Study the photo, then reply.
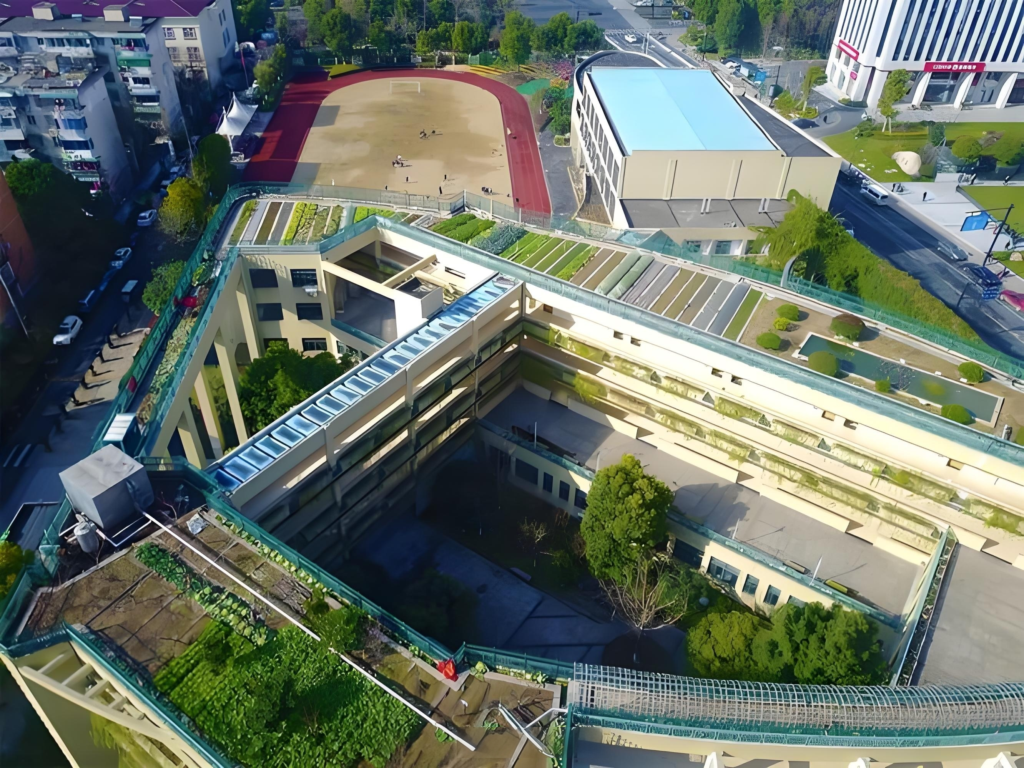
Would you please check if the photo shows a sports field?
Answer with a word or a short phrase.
Yes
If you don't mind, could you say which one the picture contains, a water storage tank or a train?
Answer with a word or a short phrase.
water storage tank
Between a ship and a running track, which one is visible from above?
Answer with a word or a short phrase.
running track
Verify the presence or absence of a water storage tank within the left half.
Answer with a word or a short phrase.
Yes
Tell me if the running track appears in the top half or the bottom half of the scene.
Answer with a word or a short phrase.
top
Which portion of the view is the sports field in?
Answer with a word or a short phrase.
top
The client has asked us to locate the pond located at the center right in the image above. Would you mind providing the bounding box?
[796,335,1007,431]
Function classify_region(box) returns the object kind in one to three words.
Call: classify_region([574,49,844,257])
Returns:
building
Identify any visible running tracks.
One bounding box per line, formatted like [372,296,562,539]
[237,68,554,232]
